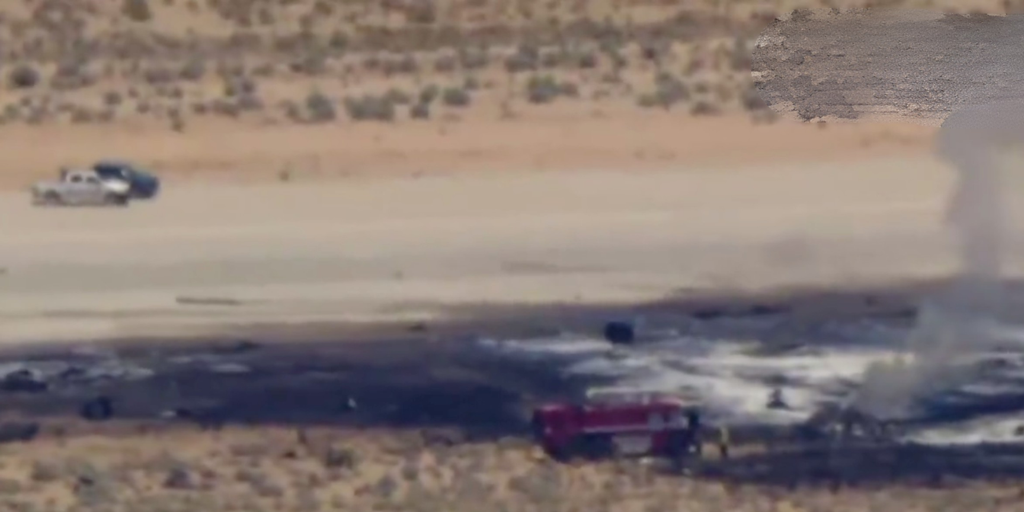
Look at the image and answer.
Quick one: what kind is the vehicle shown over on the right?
truck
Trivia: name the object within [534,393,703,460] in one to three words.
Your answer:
truck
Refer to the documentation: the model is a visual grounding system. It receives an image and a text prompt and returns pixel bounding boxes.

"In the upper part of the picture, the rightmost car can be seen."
[91,155,160,189]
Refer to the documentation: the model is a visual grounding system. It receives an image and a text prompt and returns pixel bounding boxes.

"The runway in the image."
[0,145,1024,345]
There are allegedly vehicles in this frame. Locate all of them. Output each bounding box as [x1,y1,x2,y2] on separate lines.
[91,155,160,189]
[29,169,131,205]
[534,393,703,460]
